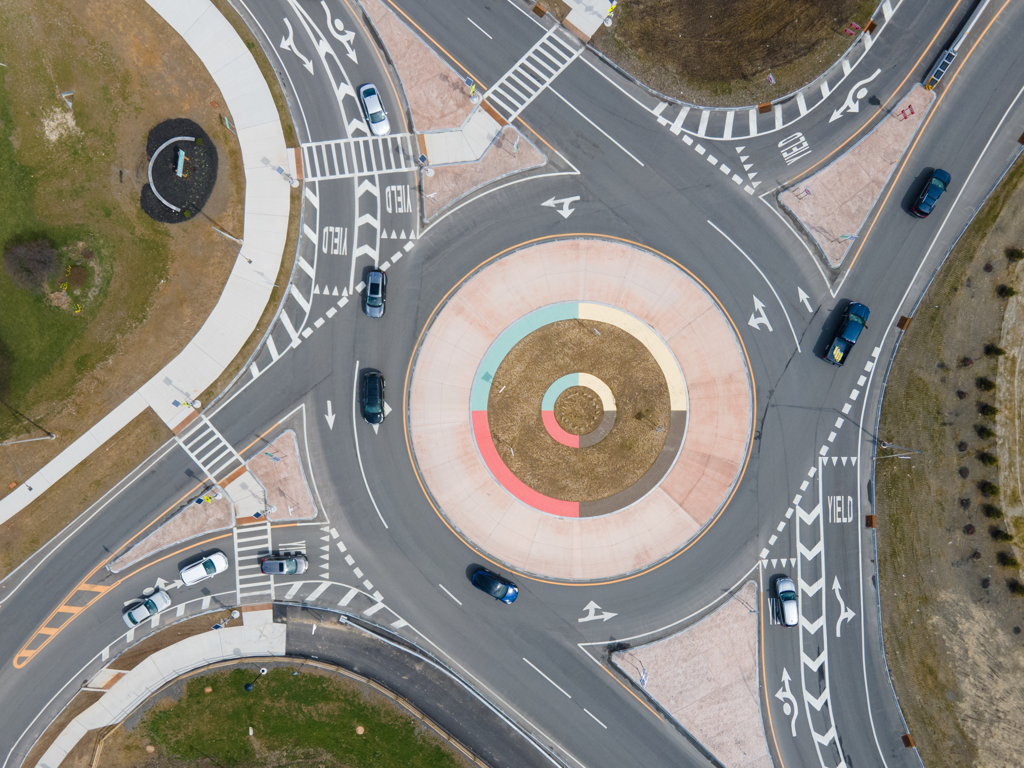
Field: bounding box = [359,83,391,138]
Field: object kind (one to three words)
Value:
car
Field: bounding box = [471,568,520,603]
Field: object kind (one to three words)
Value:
car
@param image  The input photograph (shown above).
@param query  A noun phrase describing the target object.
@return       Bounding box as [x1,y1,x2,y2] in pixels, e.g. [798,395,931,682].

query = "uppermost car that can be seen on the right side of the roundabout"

[909,169,949,219]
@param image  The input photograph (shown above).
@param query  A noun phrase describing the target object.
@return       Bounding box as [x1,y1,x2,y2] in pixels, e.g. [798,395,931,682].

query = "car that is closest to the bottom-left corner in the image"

[121,591,174,629]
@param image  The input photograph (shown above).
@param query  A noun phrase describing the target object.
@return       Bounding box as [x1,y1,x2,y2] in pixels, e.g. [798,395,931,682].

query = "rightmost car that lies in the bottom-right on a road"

[770,576,799,630]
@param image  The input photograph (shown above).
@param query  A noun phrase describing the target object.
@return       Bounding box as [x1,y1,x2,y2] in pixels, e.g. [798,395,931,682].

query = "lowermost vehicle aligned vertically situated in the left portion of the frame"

[360,372,386,425]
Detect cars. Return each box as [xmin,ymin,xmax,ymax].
[471,568,520,603]
[359,83,391,138]
[770,576,799,630]
[362,269,388,319]
[179,551,231,587]
[121,591,174,629]
[259,552,310,578]
[909,169,949,219]
[360,372,386,425]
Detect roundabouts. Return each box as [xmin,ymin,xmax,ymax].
[291,116,881,671]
